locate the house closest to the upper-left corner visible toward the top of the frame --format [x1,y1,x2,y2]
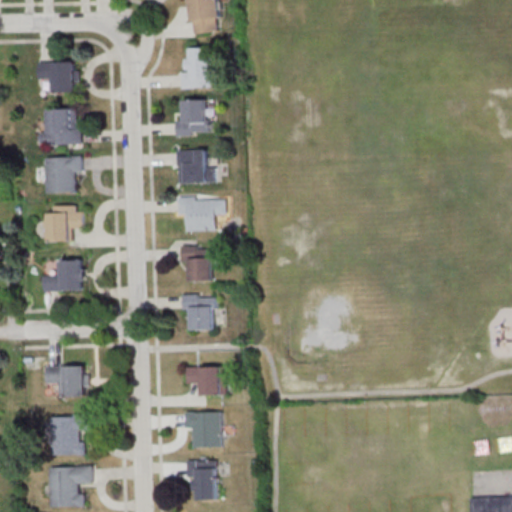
[36,60,78,91]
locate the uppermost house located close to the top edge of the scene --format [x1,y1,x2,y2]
[188,0,222,34]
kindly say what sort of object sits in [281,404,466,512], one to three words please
sports field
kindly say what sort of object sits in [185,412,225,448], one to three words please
house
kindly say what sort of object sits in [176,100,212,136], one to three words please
house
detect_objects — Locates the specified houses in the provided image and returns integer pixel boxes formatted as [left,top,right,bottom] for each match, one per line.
[188,460,220,501]
[44,367,88,397]
[44,156,84,193]
[178,197,227,232]
[182,295,218,332]
[49,467,94,508]
[185,412,225,448]
[178,150,218,183]
[42,204,86,242]
[185,367,226,396]
[38,108,81,144]
[50,418,84,456]
[176,100,212,136]
[180,47,211,90]
[42,261,84,292]
[182,246,213,280]
[188,0,222,34]
[36,60,78,91]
